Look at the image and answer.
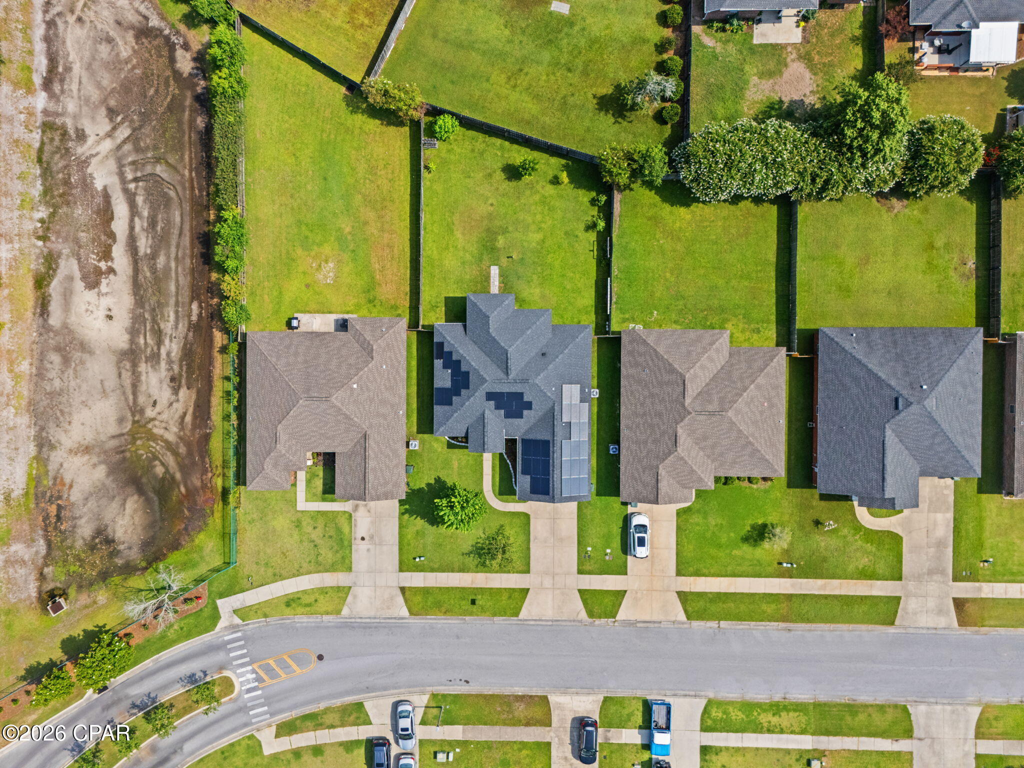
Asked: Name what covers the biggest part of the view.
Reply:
grass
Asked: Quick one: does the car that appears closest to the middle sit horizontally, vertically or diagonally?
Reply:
vertically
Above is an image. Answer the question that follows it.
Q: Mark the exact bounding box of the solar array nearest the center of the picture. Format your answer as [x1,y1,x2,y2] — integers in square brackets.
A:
[486,392,532,419]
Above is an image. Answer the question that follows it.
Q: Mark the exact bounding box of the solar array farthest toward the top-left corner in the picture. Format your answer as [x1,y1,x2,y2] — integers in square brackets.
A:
[434,342,469,405]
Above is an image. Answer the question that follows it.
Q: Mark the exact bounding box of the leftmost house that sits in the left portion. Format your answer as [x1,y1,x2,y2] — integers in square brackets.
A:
[246,317,407,501]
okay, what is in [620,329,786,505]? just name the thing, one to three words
house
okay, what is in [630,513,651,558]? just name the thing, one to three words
car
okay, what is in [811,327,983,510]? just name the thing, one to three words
house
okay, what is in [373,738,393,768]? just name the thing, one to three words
car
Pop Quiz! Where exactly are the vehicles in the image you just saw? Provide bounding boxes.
[630,513,651,558]
[396,700,417,750]
[578,717,599,765]
[398,755,417,768]
[650,699,674,757]
[373,738,393,768]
